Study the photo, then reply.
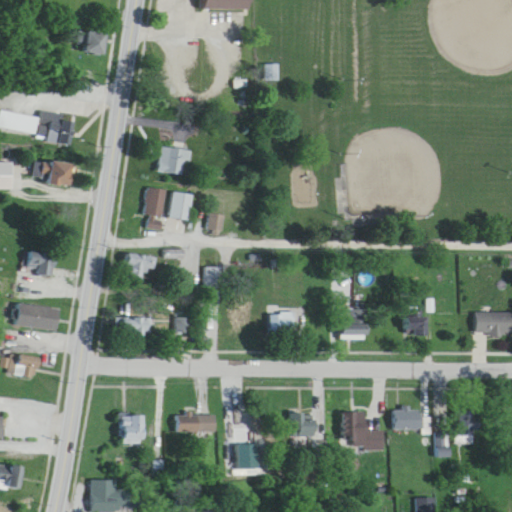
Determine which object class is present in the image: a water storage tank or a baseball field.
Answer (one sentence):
The image shows a baseball field.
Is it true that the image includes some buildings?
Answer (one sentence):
Yes, there's a building down there.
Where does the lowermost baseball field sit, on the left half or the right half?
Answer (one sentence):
The lowermost baseball field is on the right side of the image.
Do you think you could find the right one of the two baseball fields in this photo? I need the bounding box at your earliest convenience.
[429,0,512,76]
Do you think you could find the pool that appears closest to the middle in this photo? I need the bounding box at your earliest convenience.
[356,271,375,288]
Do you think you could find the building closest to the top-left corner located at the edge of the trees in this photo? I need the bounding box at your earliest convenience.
[76,30,108,56]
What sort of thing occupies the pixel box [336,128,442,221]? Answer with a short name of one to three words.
baseball field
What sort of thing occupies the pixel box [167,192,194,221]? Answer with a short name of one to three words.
barn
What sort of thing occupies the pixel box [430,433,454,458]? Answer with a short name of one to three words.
building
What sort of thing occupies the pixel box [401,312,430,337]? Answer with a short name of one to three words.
house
